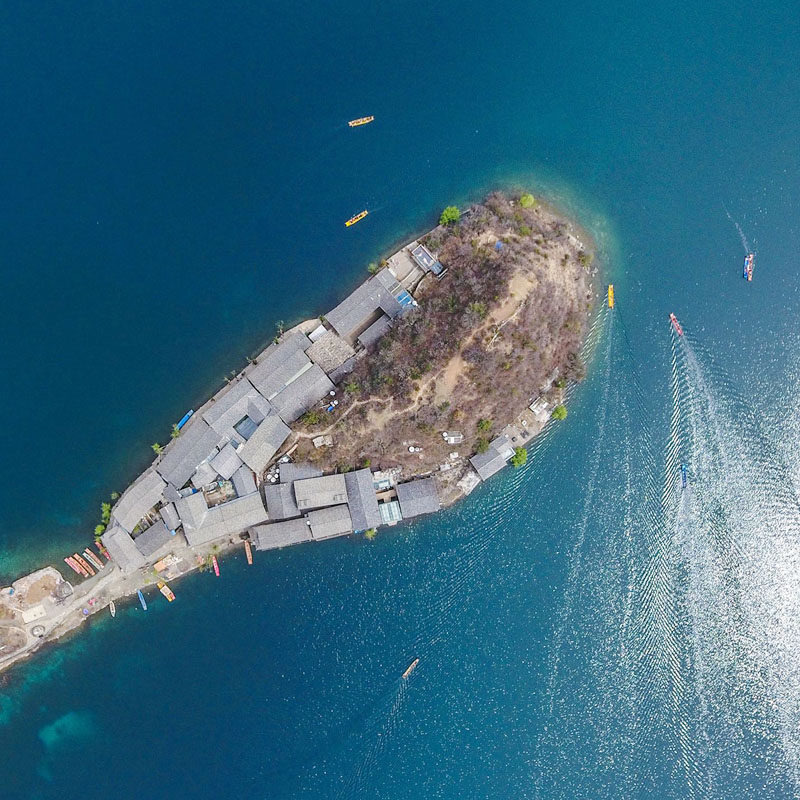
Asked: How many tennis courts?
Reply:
none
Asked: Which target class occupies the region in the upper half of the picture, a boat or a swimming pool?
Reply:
boat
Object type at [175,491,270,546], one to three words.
house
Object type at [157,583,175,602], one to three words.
boat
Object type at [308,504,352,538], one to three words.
house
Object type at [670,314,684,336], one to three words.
boat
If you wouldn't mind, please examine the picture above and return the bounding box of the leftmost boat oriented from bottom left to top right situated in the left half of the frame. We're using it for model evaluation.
[177,409,193,430]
